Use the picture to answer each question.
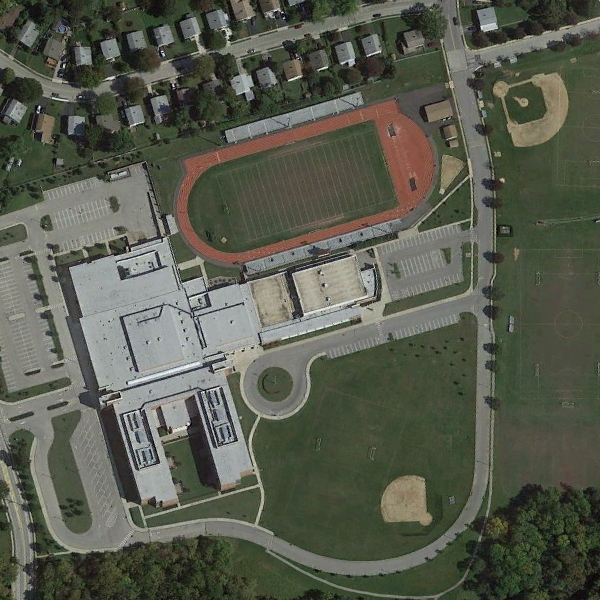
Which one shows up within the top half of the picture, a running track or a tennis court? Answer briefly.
running track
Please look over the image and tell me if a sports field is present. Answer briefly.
Yes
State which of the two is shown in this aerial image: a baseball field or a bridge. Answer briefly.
baseball field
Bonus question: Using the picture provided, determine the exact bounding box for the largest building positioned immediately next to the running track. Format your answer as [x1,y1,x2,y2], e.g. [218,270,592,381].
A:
[69,162,380,507]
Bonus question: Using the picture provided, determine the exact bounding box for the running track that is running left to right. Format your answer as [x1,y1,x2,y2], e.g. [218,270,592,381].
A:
[176,100,434,264]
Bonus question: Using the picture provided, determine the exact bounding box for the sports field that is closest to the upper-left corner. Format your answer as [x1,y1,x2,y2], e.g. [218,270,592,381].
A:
[188,120,397,253]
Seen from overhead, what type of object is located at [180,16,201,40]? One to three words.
house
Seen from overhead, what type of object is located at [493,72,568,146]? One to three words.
baseball field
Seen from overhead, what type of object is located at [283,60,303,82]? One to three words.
house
